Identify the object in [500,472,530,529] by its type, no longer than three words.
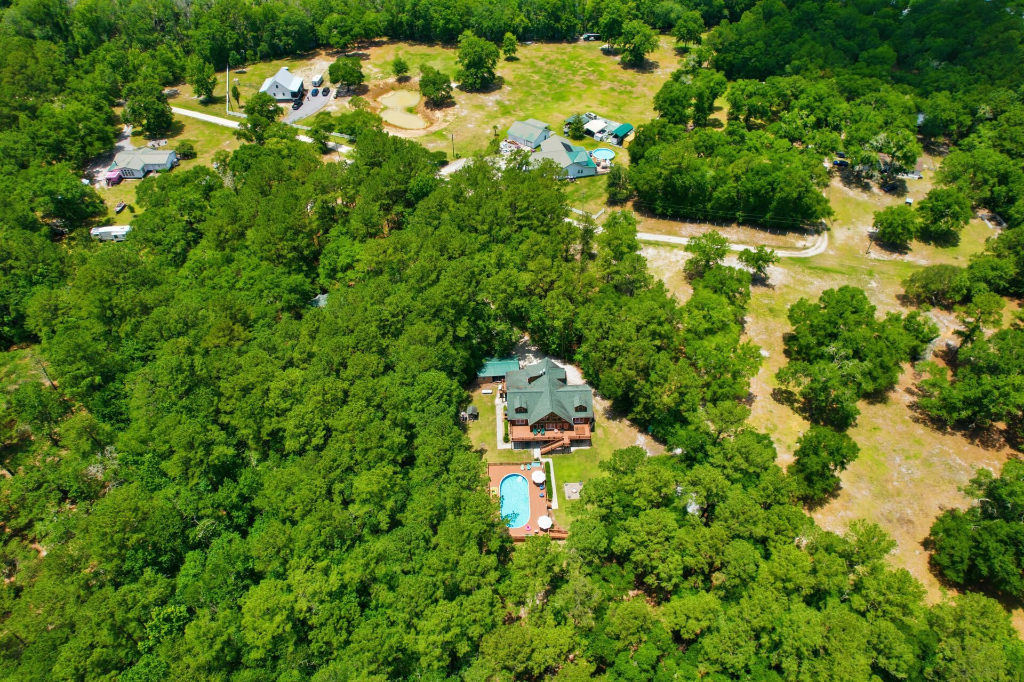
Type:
swimming pool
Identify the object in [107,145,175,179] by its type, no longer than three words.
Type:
house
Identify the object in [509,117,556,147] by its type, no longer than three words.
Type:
building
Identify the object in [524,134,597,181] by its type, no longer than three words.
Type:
building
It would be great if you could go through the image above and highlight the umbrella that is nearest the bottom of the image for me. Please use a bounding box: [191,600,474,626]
[538,517,552,530]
